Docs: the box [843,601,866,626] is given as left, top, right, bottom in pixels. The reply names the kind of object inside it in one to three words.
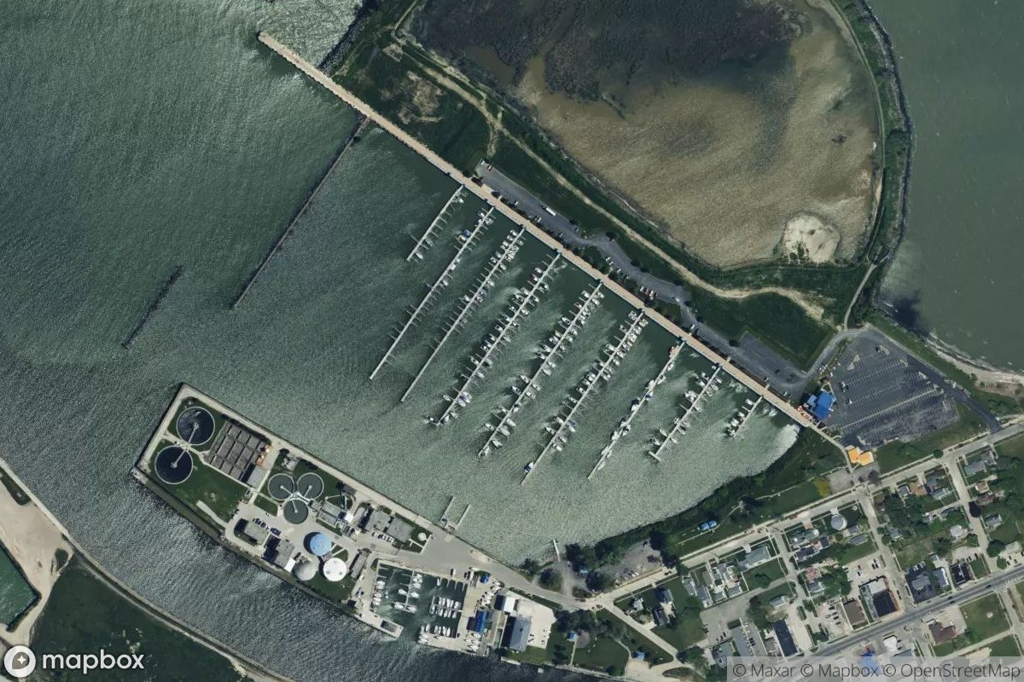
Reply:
building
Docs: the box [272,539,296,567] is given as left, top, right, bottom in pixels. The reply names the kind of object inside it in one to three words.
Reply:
building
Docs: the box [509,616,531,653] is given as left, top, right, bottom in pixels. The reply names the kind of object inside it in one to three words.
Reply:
shed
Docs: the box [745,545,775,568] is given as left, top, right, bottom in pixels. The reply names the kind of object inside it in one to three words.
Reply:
house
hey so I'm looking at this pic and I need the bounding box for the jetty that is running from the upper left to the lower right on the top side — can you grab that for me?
[259,32,815,430]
